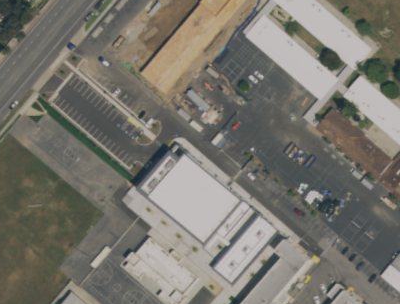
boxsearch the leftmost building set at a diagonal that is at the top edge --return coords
[141,0,246,94]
